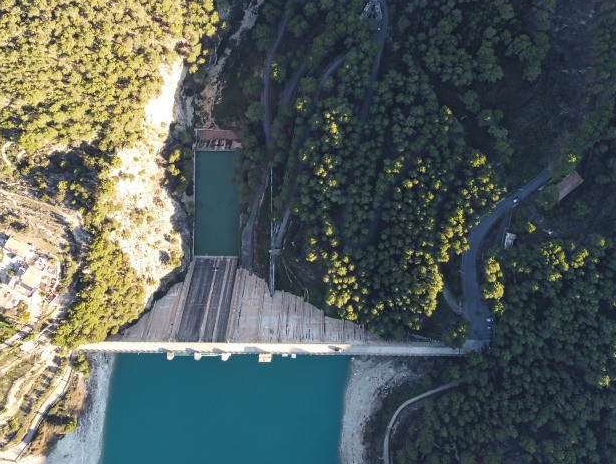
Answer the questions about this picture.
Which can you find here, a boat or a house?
house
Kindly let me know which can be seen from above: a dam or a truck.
dam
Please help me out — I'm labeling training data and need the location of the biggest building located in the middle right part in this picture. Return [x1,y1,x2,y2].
[548,170,585,201]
